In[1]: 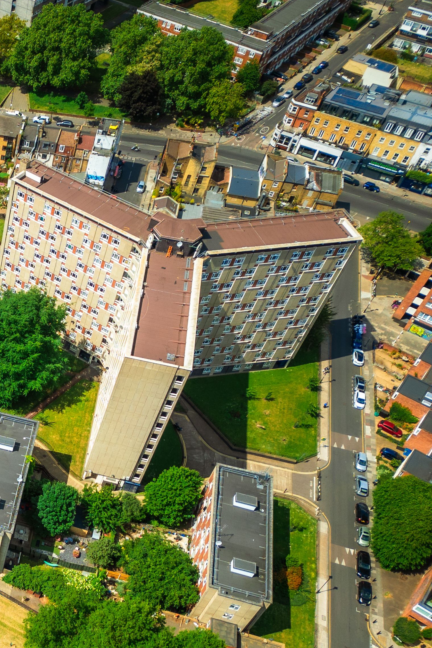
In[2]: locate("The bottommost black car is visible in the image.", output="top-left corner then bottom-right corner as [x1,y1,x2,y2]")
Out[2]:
[357,579,375,608]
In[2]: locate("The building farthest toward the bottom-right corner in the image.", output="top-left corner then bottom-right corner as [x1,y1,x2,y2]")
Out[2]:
[392,583,432,629]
